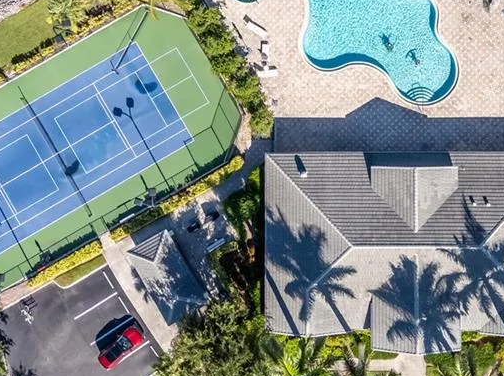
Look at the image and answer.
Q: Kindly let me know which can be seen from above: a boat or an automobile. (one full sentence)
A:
Visible in the photo is an automobile.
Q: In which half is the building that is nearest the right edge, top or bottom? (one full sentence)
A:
You can find the building that is nearest the right edge in the bottom half.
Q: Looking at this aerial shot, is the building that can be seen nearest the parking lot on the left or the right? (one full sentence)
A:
The building that can be seen nearest the parking lot appears in the left half of the scene.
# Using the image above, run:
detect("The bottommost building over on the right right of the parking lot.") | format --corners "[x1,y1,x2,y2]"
[264,152,504,358]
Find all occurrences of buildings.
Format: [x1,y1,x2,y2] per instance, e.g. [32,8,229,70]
[126,229,210,324]
[264,152,504,358]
